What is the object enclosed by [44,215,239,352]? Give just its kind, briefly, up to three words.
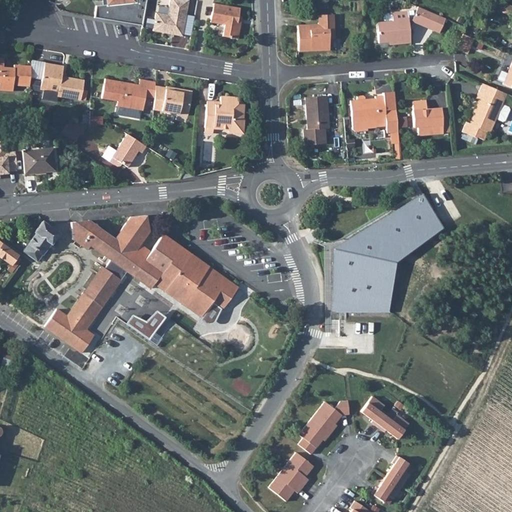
building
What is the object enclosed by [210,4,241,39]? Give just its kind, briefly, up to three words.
house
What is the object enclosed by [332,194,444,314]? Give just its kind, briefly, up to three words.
building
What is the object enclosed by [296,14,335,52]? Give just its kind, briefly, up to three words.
house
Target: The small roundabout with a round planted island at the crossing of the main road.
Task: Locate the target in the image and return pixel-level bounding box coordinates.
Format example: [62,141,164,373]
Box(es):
[244,168,297,220]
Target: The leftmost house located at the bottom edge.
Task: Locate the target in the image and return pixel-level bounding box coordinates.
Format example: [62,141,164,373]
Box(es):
[267,452,314,502]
